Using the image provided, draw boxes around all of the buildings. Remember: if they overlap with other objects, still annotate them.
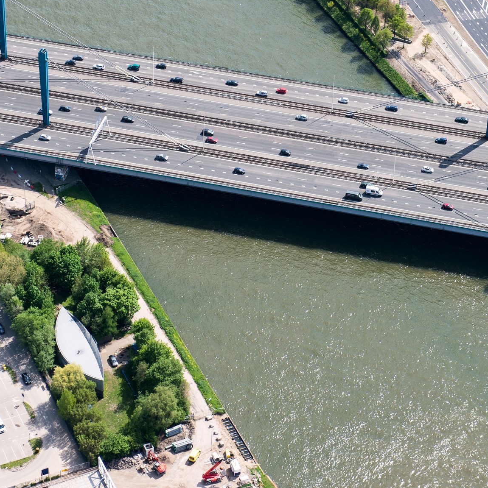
[55,307,104,397]
[30,456,115,488]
